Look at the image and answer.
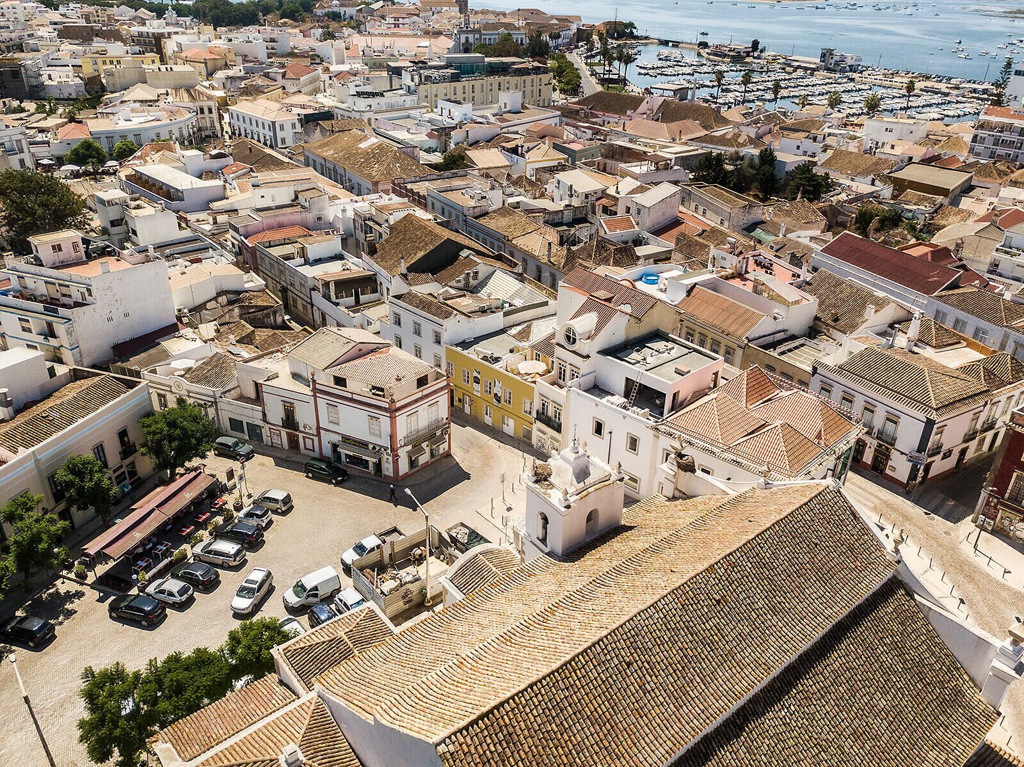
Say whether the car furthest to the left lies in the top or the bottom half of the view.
bottom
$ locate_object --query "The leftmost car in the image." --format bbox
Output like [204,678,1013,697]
[0,613,57,648]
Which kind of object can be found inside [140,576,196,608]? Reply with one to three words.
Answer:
car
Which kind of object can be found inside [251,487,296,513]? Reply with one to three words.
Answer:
car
